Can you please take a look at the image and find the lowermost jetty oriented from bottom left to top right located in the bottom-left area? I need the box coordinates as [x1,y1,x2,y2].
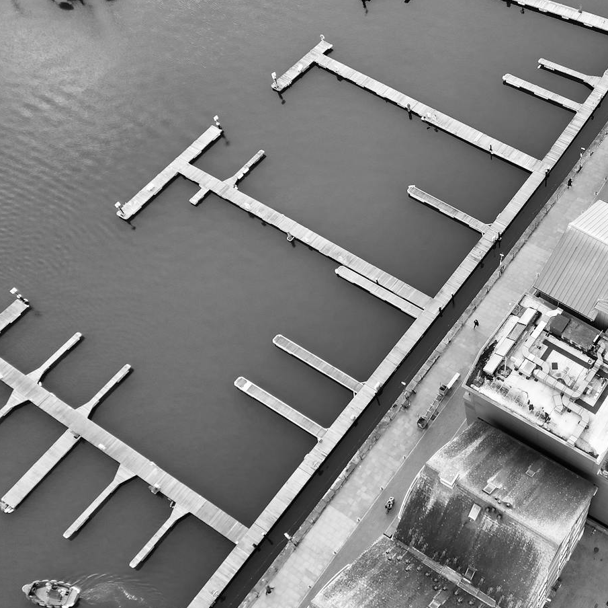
[131,505,191,568]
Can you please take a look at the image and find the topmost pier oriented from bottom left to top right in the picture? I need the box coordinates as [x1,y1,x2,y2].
[272,41,333,93]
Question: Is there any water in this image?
Yes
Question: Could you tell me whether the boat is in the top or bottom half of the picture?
bottom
